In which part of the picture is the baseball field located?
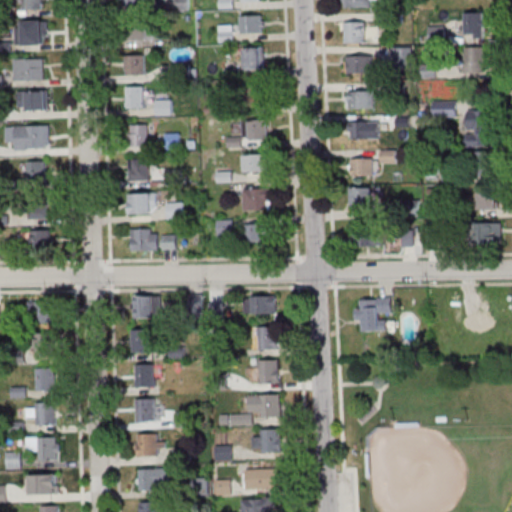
bottom right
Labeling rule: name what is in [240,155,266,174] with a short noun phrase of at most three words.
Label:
house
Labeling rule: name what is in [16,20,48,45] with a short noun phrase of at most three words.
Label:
house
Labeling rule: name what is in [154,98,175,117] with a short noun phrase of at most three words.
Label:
building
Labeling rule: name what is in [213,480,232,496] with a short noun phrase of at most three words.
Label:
building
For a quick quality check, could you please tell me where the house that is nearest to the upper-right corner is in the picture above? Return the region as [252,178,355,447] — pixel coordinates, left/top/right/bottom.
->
[462,12,483,45]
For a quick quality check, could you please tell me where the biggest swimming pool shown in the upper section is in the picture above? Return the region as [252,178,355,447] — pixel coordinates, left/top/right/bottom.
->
[170,48,196,62]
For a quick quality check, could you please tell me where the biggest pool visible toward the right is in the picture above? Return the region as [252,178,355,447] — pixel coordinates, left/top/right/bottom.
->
[400,311,420,344]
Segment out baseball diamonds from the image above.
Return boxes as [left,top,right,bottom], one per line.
[370,428,512,512]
